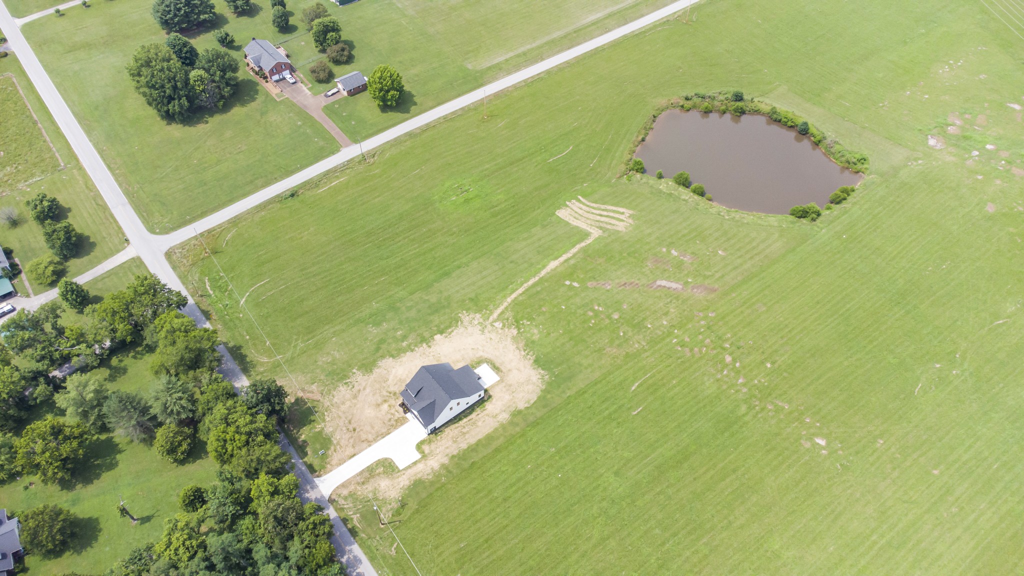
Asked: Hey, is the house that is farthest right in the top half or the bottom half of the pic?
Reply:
bottom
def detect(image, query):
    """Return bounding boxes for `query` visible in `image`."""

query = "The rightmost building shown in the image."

[399,363,485,434]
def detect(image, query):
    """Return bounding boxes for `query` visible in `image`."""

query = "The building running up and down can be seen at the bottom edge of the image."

[0,497,32,572]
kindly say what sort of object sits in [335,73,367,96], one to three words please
building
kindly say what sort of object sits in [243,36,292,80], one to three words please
house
